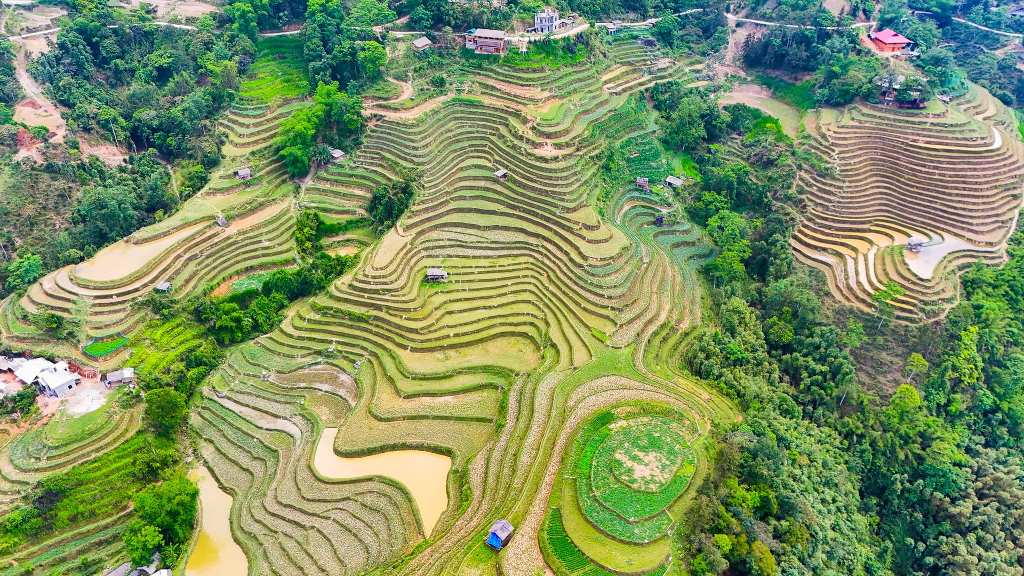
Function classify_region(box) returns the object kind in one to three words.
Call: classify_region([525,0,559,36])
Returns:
house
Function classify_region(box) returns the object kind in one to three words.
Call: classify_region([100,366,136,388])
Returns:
shed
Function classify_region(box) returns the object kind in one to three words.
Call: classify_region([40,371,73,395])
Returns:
house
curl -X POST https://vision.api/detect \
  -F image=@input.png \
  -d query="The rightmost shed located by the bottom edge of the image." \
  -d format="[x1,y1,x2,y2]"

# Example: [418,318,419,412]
[483,523,512,552]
